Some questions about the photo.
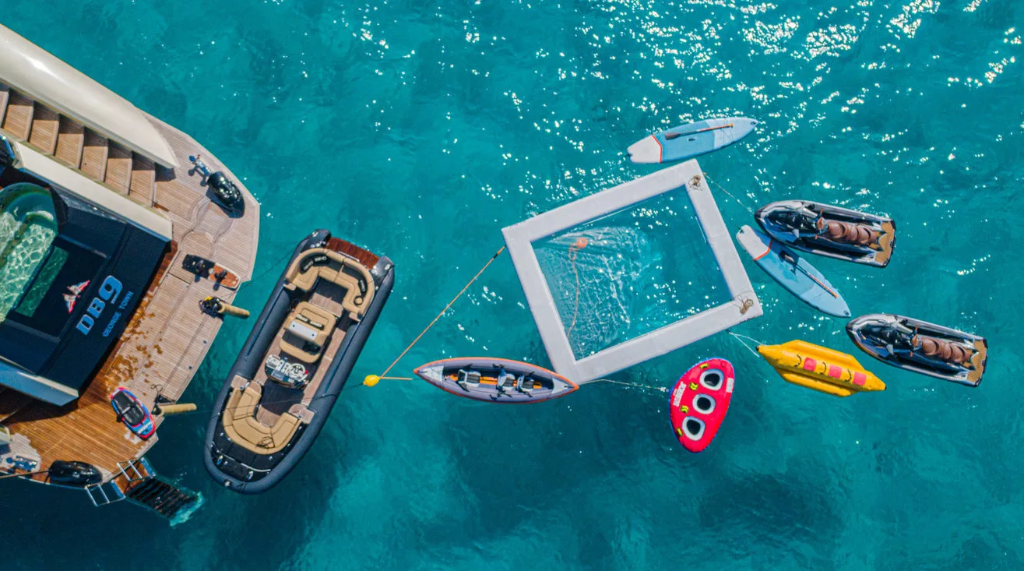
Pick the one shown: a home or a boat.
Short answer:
boat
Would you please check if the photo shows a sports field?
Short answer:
No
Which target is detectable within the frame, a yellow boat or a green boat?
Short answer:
yellow boat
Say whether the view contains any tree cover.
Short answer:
No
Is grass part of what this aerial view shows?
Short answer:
No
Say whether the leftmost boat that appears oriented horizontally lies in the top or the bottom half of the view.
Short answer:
bottom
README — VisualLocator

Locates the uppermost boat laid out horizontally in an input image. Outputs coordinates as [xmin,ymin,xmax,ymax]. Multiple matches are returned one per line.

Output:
[751,202,900,272]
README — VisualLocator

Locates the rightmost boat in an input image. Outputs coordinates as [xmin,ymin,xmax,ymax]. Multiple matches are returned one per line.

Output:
[841,316,992,389]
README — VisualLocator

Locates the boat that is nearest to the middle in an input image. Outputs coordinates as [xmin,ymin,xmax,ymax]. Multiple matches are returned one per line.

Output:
[410,353,581,402]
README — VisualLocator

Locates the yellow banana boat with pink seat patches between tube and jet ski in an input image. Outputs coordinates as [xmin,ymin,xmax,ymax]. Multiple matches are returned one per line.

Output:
[758,338,890,396]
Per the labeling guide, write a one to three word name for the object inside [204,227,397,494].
boat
